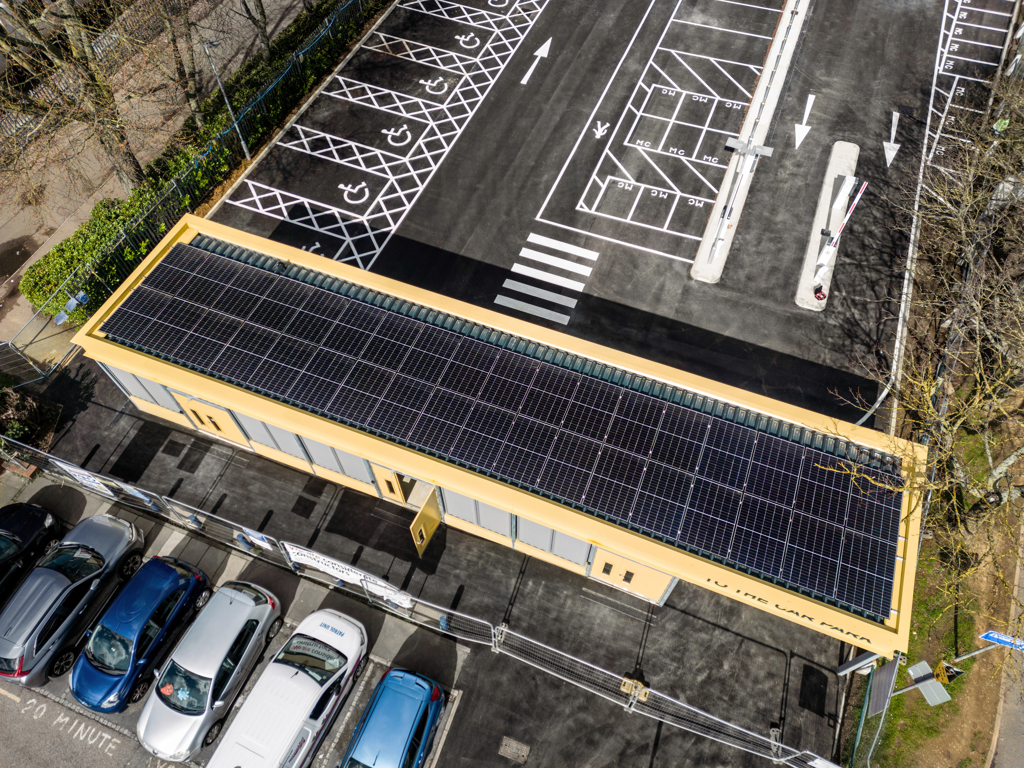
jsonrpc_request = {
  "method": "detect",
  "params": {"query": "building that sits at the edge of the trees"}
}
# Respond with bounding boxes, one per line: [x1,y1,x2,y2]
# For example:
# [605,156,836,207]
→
[71,213,927,676]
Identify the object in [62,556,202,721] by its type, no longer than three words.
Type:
car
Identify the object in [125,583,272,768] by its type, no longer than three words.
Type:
car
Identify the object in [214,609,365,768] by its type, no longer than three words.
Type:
van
